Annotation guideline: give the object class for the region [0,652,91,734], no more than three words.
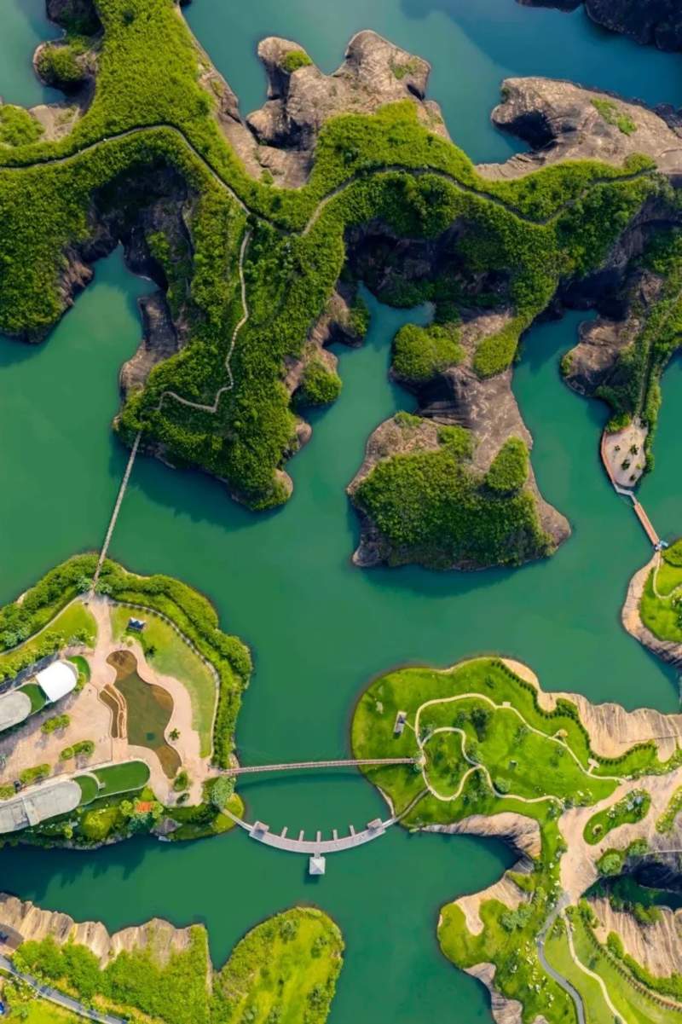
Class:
building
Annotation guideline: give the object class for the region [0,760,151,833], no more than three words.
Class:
building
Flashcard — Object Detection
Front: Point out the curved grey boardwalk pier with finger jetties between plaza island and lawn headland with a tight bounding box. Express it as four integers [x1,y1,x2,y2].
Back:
[222,808,398,857]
